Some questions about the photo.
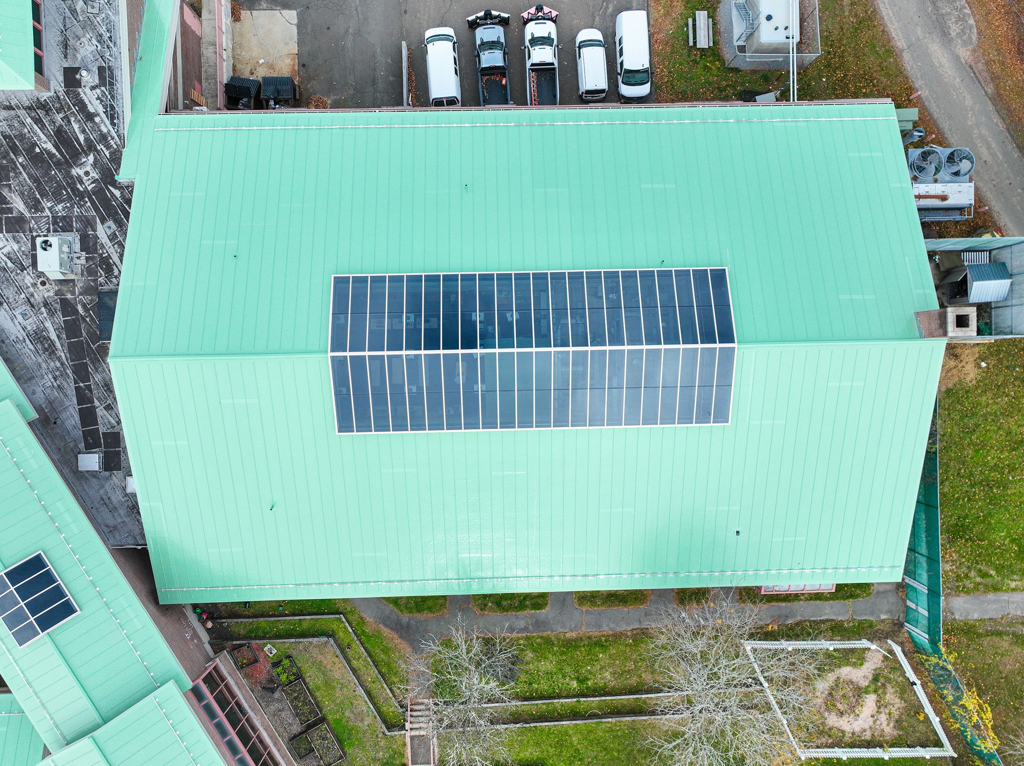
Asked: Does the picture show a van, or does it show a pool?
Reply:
van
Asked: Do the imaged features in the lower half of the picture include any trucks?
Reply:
No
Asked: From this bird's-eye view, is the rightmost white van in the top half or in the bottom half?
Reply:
top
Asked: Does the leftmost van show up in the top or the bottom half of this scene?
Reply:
top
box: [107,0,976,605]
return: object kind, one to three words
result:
building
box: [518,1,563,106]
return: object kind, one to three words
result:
truck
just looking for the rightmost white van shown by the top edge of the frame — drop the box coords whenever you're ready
[615,10,656,105]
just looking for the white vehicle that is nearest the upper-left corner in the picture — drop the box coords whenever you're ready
[421,26,463,107]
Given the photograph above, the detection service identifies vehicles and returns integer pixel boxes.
[573,29,610,103]
[421,26,463,107]
[615,10,656,105]
[518,1,563,106]
[467,6,513,107]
